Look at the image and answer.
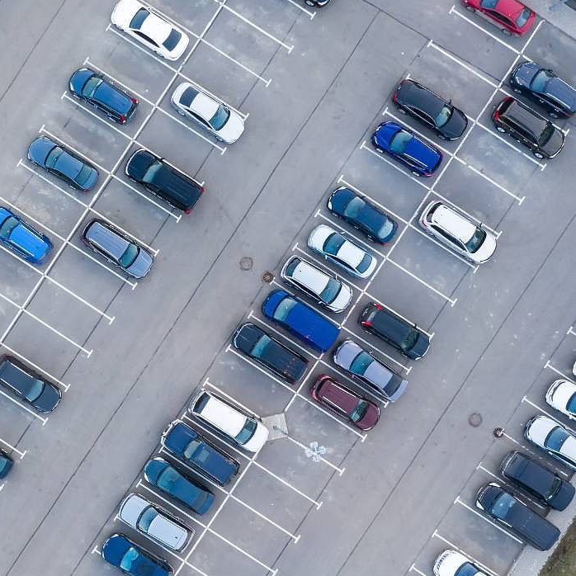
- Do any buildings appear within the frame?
No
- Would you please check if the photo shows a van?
Yes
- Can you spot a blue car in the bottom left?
Yes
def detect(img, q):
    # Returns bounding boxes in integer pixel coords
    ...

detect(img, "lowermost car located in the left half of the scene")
[102,529,174,576]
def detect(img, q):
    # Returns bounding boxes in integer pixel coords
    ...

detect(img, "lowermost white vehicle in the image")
[428,545,495,576]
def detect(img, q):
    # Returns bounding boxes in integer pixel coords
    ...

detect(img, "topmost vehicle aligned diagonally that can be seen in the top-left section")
[112,0,189,62]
